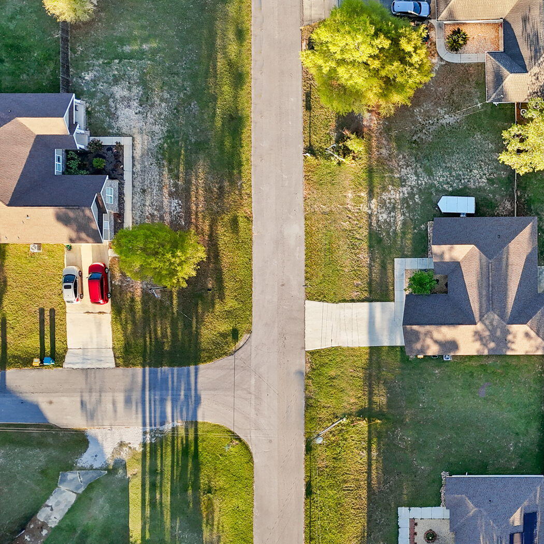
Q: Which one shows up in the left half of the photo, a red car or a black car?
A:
red car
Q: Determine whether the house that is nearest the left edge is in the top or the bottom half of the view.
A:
top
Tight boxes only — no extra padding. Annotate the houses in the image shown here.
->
[435,0,544,105]
[402,216,544,355]
[446,474,544,544]
[0,93,118,244]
